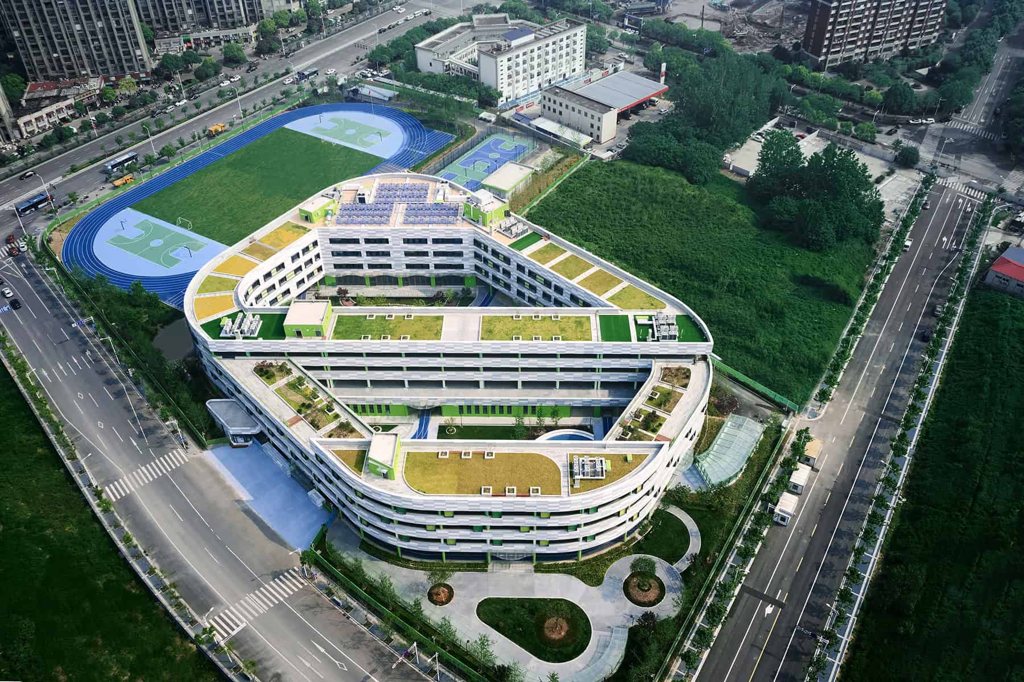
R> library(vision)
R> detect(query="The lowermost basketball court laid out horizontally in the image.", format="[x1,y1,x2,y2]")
[106,219,208,269]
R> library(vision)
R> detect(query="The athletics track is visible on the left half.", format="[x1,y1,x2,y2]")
[66,104,453,316]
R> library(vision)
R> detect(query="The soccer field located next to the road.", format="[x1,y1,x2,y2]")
[131,126,386,247]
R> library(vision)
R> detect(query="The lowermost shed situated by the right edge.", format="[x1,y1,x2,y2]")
[984,255,1024,298]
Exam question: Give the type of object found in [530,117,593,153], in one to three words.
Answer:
shed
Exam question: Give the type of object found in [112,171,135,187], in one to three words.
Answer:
vehicle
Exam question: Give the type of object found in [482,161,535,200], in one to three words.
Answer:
building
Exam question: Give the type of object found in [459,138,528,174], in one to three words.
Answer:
basketball court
